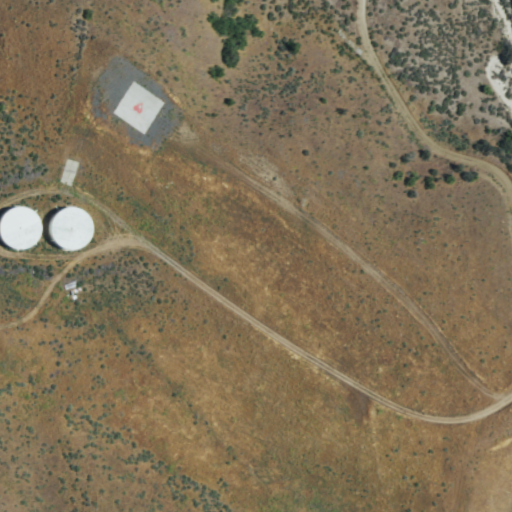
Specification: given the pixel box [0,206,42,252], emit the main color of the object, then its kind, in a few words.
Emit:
white storage tank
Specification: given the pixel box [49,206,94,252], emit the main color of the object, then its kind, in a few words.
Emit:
white storage tank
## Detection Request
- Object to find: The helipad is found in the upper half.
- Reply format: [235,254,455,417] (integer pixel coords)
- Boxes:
[90,56,181,149]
